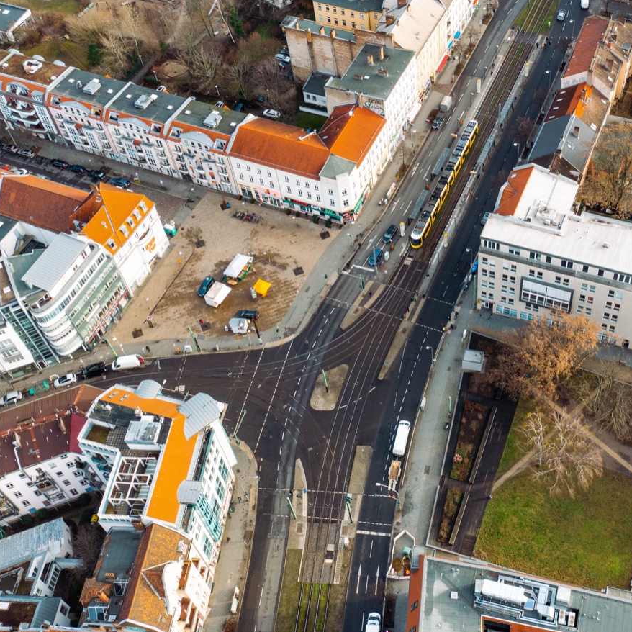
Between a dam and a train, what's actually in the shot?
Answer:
train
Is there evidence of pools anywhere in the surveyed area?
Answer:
No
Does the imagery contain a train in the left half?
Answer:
No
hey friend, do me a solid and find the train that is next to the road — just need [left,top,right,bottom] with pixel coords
[411,121,476,243]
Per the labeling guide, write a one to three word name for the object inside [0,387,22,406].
car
